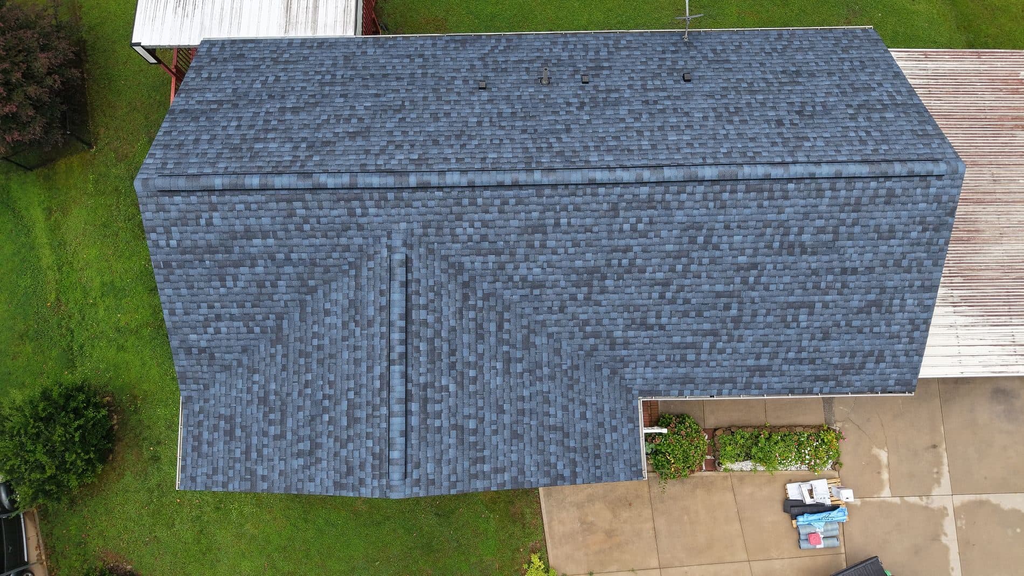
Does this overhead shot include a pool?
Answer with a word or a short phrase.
No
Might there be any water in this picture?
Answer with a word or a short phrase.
No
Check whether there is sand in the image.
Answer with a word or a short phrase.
No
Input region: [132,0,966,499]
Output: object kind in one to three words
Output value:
house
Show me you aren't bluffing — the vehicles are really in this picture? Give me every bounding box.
[0,500,36,576]
[833,557,887,576]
